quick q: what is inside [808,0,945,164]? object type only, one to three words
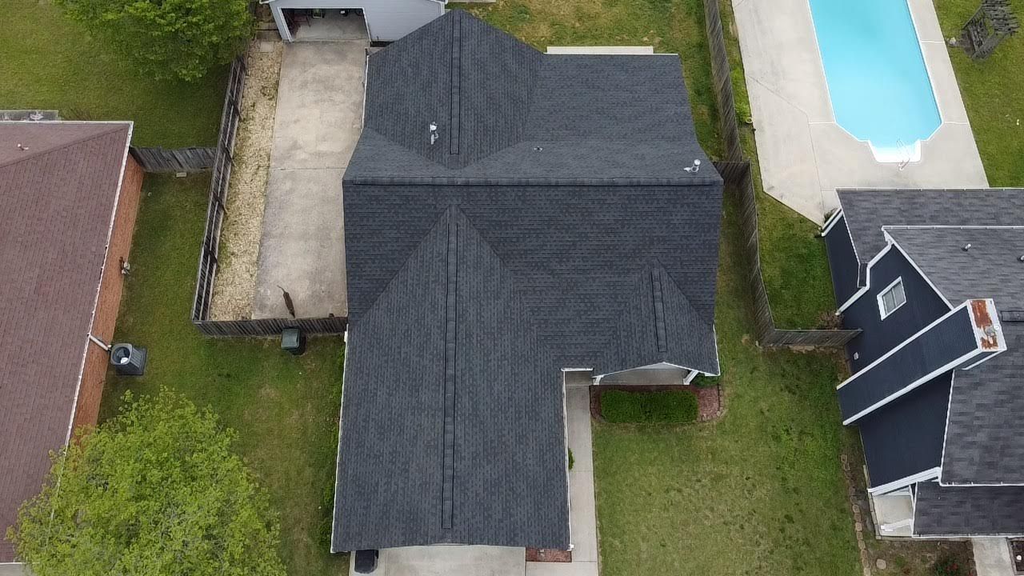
swimming pool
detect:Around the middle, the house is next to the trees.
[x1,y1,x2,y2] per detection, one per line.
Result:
[331,11,722,554]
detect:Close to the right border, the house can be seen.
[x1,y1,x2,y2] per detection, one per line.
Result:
[822,186,1024,539]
